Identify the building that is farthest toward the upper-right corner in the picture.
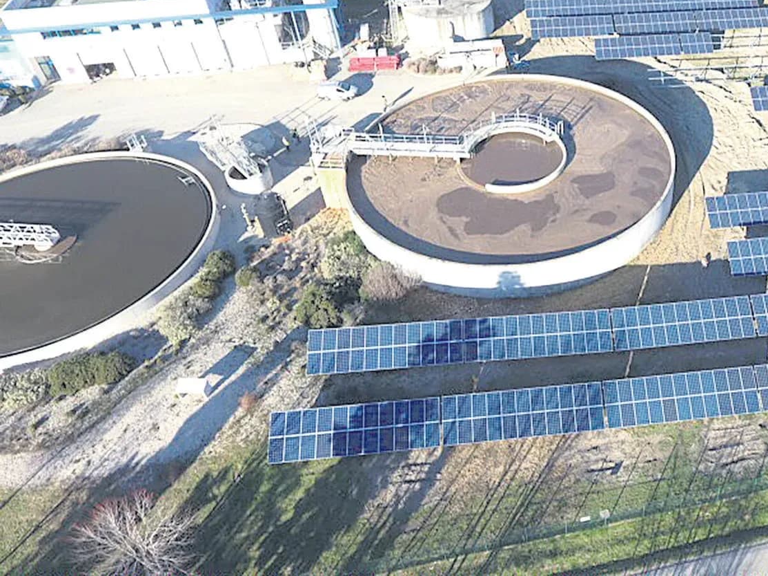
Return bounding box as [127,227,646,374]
[440,27,511,68]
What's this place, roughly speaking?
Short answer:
industrial area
